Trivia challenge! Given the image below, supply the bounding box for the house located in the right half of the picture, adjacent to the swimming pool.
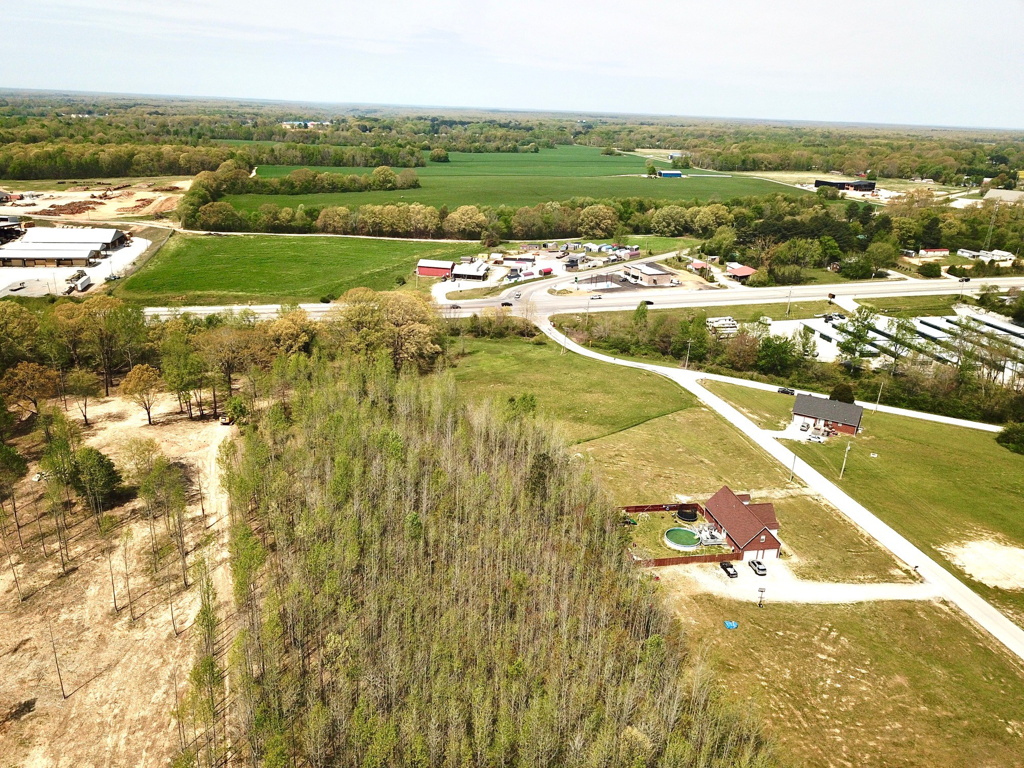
[700,481,783,561]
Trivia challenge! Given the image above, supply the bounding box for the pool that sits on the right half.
[665,527,701,551]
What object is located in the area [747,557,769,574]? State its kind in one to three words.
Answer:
car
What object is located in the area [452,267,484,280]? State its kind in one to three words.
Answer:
building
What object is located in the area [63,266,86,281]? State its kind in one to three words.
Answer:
vehicle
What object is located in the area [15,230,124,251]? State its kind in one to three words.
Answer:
shed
